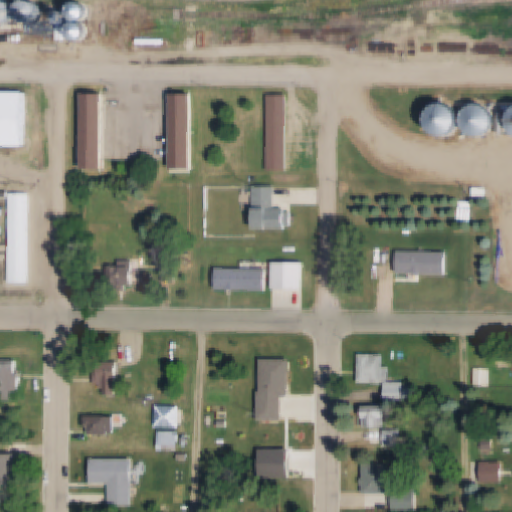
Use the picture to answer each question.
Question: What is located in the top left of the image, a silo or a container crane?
silo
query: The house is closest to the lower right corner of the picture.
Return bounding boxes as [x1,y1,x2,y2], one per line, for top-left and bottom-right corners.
[476,462,500,483]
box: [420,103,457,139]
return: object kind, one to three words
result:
silo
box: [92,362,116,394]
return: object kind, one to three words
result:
house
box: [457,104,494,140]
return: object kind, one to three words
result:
silo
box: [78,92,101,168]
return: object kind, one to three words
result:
shed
